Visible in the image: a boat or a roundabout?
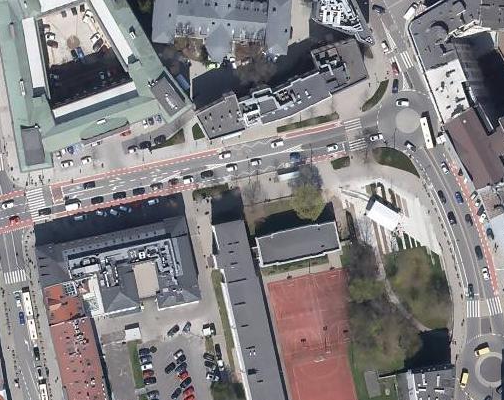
roundabout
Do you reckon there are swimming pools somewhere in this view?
No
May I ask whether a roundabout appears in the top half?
Yes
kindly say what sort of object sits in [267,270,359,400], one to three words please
sports court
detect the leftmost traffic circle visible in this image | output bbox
[378,91,436,150]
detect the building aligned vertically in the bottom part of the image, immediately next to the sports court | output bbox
[212,219,291,400]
